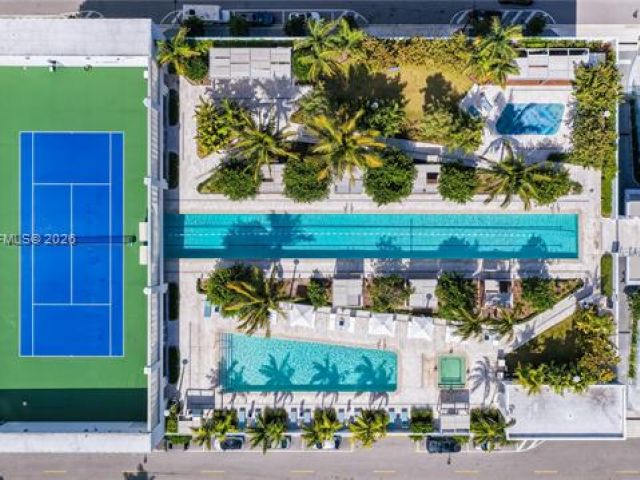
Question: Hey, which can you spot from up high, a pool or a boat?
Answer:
pool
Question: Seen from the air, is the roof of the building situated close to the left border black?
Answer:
No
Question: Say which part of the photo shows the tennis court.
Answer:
left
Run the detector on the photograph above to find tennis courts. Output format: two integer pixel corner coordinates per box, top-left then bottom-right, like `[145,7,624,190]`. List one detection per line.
[0,66,148,421]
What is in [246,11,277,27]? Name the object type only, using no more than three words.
car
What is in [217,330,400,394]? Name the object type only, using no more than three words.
swimming pool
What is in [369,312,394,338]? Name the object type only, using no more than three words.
umbrella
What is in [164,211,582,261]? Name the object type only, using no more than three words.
swimming pool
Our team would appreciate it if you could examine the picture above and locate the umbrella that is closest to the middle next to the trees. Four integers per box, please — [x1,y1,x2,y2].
[289,304,313,328]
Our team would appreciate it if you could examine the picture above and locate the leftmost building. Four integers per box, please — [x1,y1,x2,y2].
[0,18,169,452]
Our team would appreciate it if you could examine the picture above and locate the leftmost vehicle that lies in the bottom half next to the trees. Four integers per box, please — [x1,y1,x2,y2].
[216,436,246,450]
